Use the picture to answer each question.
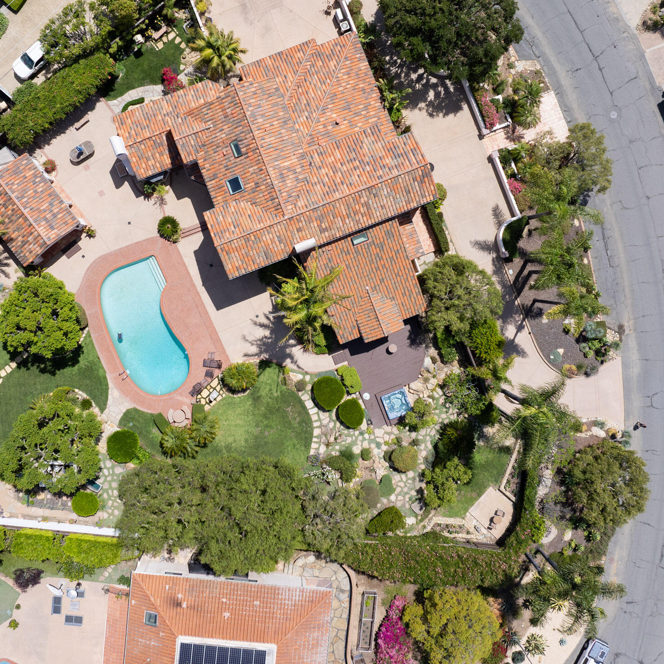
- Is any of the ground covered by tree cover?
Yes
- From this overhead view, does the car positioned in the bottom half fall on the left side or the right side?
right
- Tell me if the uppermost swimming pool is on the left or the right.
left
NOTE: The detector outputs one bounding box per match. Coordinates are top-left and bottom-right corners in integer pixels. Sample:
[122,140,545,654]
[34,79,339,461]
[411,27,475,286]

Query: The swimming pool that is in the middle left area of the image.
[100,257,189,396]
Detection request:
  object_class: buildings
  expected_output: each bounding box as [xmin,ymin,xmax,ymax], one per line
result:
[123,545,334,664]
[107,31,438,345]
[0,153,93,266]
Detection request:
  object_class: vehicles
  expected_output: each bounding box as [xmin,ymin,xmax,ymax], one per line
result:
[572,633,609,664]
[14,29,58,84]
